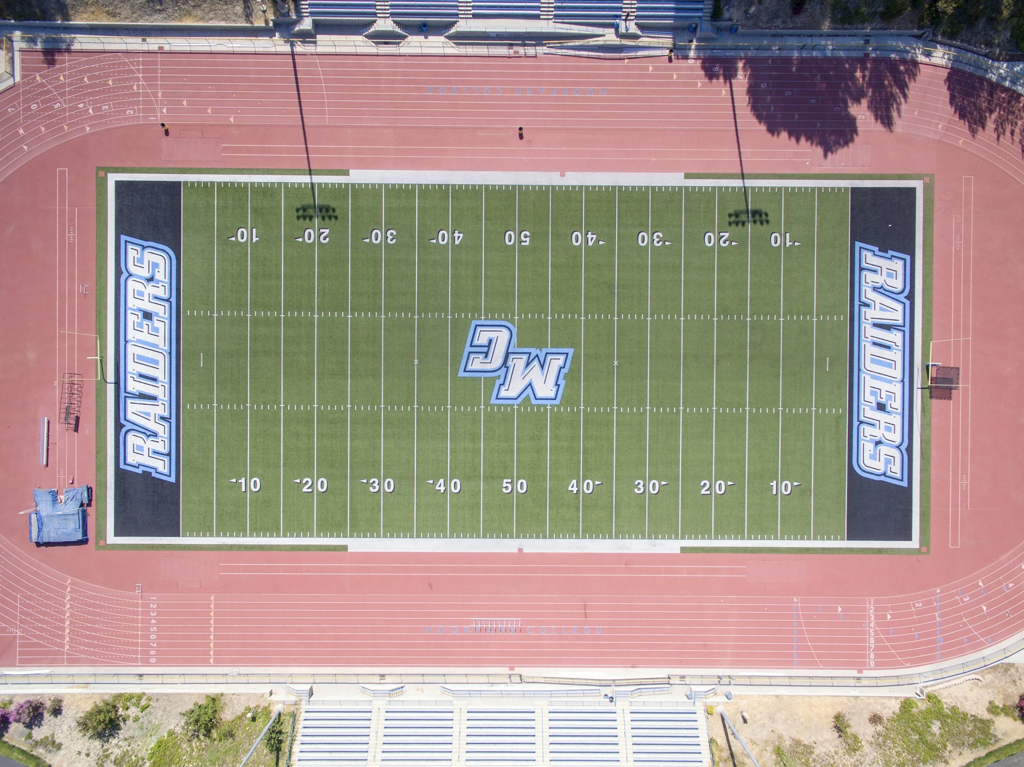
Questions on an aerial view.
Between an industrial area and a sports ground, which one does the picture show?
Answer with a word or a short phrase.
sports ground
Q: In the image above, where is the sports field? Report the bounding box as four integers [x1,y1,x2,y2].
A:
[95,167,934,555]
